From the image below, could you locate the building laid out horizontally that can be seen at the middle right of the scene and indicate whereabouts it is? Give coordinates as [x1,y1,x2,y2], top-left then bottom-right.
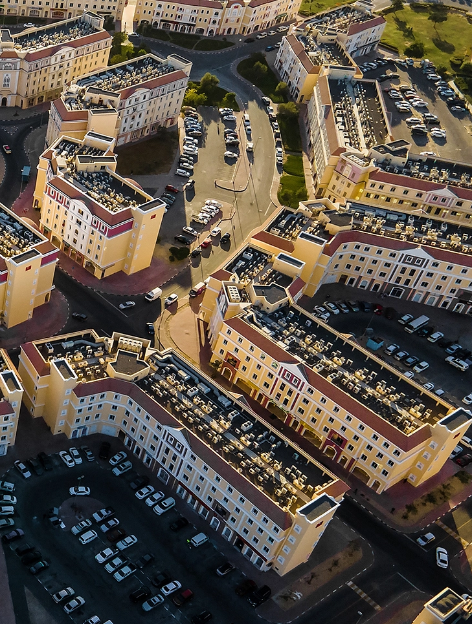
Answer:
[250,198,472,311]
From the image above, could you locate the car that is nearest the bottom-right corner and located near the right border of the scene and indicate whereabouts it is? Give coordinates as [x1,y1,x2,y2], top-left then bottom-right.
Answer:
[435,549,448,568]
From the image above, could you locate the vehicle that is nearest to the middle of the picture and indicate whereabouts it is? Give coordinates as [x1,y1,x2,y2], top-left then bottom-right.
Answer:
[189,282,203,295]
